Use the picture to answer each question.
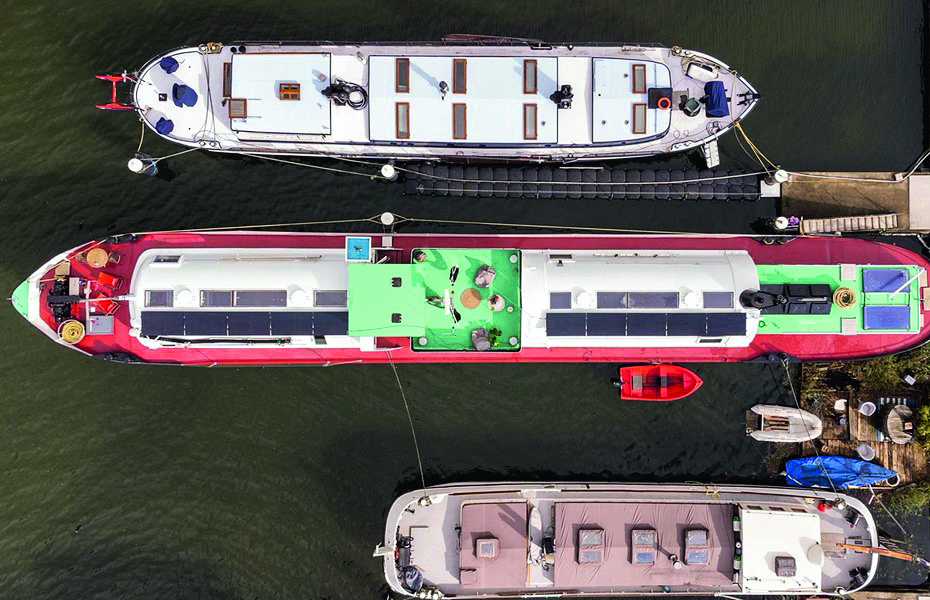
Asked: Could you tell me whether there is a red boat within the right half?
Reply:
Yes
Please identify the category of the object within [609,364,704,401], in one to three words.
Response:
boat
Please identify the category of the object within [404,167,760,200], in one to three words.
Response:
pier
